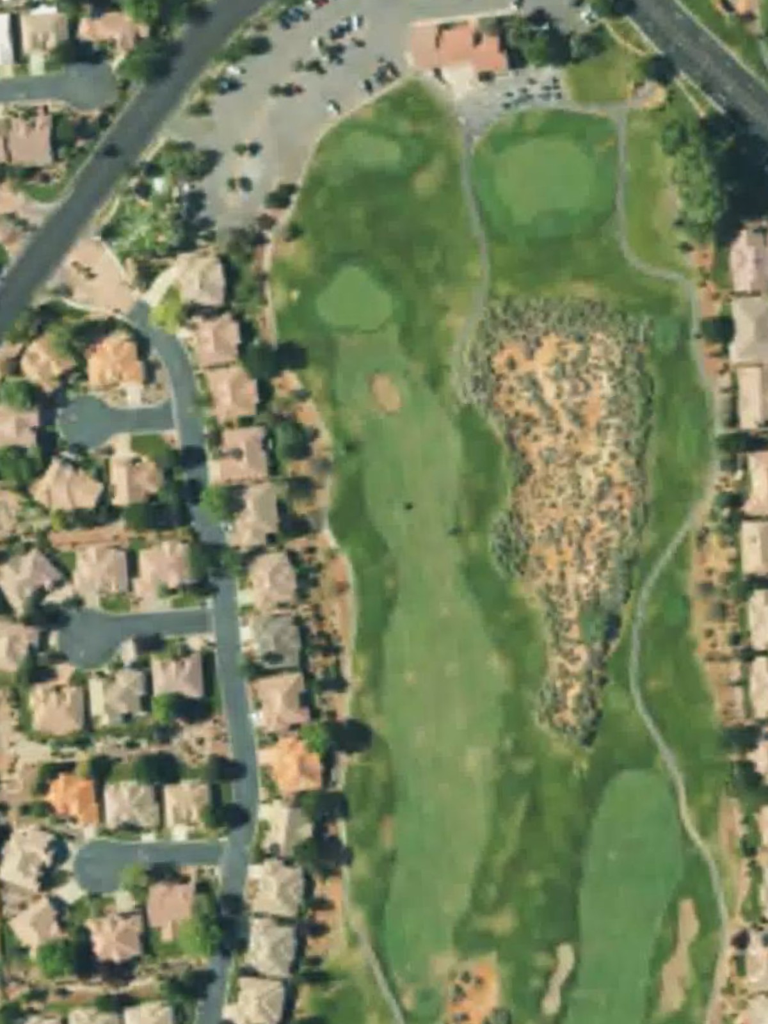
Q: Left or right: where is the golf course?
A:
right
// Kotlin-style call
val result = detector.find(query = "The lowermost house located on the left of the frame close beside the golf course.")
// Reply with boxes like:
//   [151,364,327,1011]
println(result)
[222,978,285,1024]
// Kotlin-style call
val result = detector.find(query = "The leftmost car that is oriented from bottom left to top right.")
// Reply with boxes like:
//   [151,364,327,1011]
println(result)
[106,143,119,158]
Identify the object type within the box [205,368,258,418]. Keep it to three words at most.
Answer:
house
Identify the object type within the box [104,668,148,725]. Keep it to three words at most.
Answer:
house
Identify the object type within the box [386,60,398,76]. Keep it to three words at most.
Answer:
vehicle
